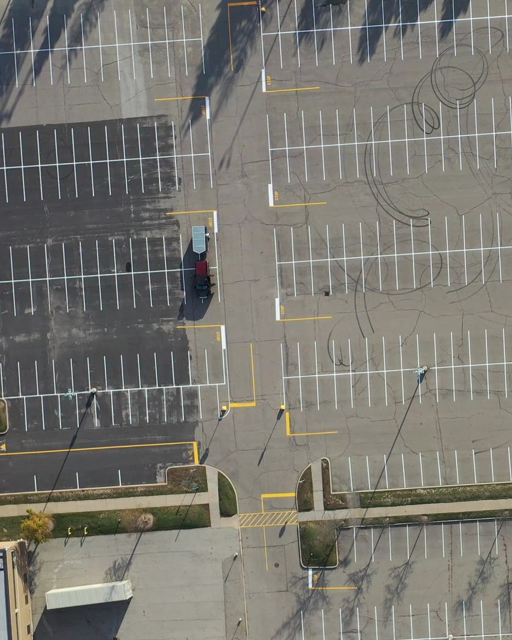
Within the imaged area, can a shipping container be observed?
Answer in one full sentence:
Yes, looking at the shot, I can spot a shipping container.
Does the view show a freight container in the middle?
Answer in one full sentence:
No, the scene shows no freight container in the middle.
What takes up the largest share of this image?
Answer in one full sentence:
What you mostly see from above here is paved ground.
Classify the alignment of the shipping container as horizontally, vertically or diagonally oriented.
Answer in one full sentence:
In this picture, the shipping container lies horizontally.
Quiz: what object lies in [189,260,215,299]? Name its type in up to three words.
truck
